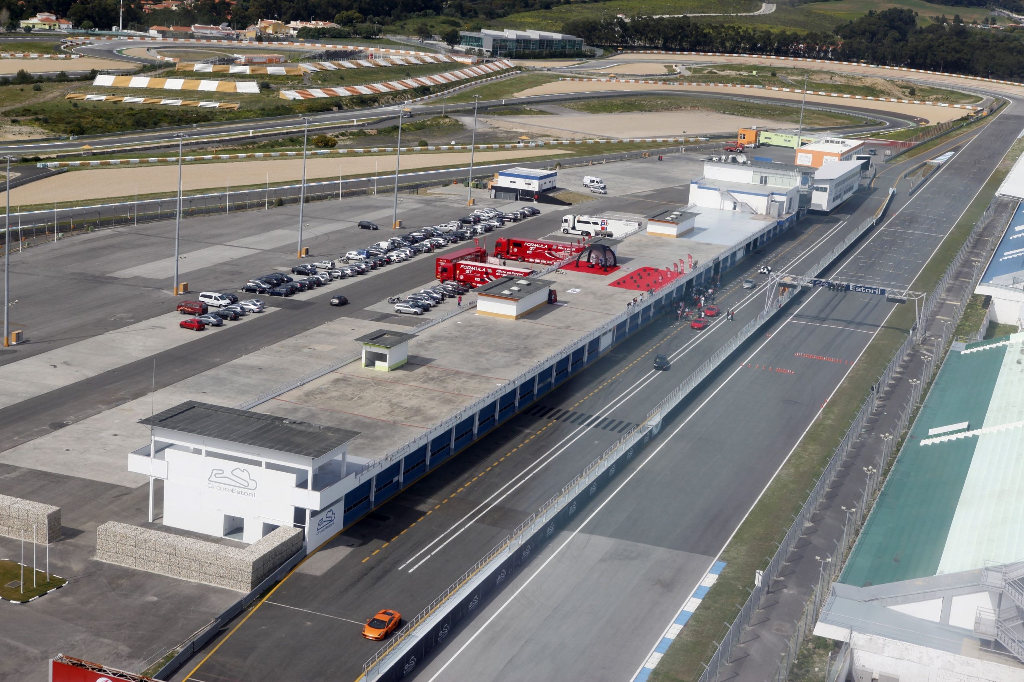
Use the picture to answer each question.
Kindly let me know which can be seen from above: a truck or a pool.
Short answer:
truck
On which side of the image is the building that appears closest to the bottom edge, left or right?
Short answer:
left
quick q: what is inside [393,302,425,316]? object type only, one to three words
car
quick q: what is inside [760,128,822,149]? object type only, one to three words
building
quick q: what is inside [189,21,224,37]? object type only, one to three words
house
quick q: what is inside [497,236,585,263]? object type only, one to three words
truck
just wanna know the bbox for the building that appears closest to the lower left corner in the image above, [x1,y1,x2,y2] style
[128,400,375,555]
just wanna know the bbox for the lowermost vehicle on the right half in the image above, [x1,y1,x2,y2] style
[652,354,670,371]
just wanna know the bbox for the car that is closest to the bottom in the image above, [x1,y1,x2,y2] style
[361,610,402,641]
